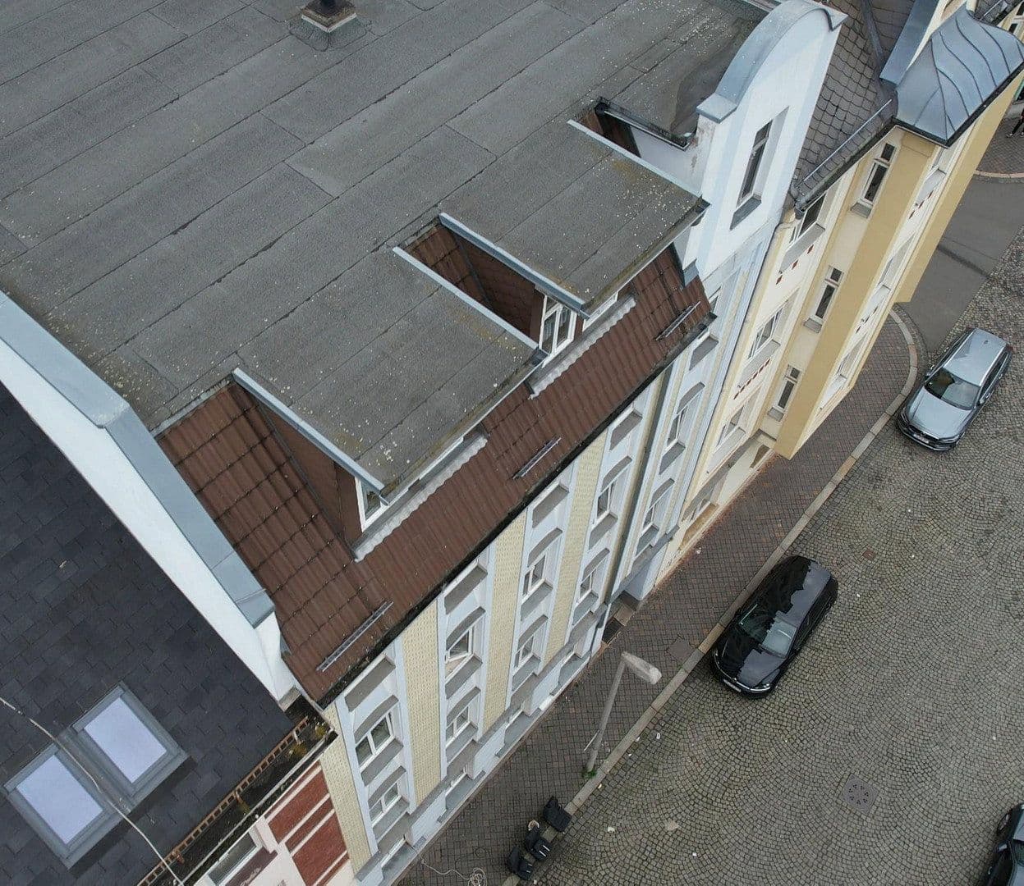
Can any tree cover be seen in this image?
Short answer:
No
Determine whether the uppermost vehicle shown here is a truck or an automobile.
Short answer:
automobile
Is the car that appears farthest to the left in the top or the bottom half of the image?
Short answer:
bottom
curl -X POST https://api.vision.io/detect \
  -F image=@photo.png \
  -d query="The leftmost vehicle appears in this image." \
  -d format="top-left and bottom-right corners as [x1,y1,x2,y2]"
[713,560,841,702]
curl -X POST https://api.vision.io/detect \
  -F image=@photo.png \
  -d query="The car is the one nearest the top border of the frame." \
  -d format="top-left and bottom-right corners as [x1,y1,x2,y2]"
[901,333,1017,457]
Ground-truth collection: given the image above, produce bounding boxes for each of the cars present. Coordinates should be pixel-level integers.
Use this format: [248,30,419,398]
[713,560,841,702]
[901,333,1017,457]
[973,813,1024,886]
